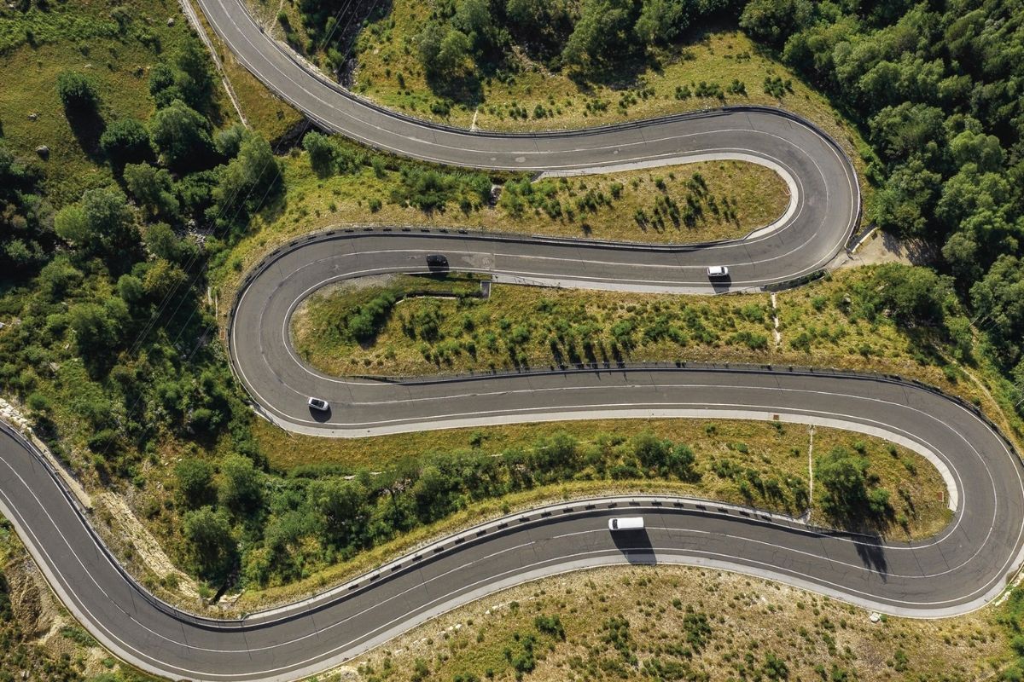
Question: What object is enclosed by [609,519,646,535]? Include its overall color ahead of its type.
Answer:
white vehicle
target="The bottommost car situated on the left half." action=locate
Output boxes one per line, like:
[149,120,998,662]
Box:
[306,396,329,411]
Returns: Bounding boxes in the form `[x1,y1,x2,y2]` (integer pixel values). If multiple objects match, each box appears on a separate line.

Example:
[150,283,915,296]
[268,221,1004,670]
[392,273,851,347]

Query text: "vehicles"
[426,254,447,265]
[708,265,730,276]
[609,519,646,535]
[306,396,329,411]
